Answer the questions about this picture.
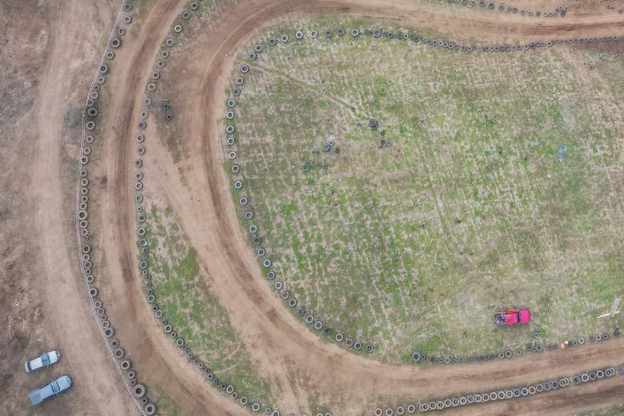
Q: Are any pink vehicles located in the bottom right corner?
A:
Yes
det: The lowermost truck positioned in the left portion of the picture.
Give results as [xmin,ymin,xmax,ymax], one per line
[26,371,78,407]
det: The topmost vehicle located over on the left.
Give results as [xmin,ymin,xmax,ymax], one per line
[24,346,66,373]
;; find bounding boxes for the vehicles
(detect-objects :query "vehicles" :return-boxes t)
[24,346,66,373]
[26,371,78,407]
[493,306,532,326]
